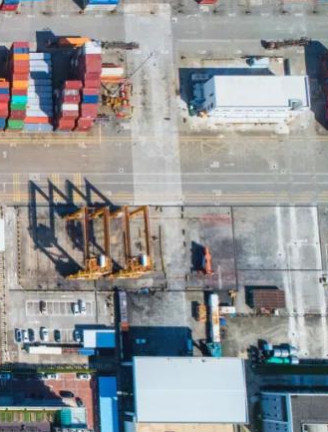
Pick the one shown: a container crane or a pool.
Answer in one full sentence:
Looking from above, you can make out a container crane.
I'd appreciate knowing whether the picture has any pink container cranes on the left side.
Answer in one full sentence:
No, no pink container crane appears on the left side.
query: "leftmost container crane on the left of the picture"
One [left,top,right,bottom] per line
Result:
[60,201,111,274]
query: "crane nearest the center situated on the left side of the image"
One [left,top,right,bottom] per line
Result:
[100,201,155,274]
